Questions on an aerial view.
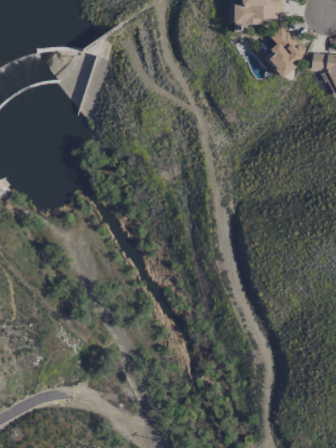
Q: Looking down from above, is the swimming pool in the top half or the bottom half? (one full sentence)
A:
The top half of the photo is where the swimming pool is.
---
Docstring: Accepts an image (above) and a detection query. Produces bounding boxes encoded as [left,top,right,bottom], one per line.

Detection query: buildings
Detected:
[327,54,336,85]
[235,0,284,25]
[270,26,308,80]
[312,53,324,70]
